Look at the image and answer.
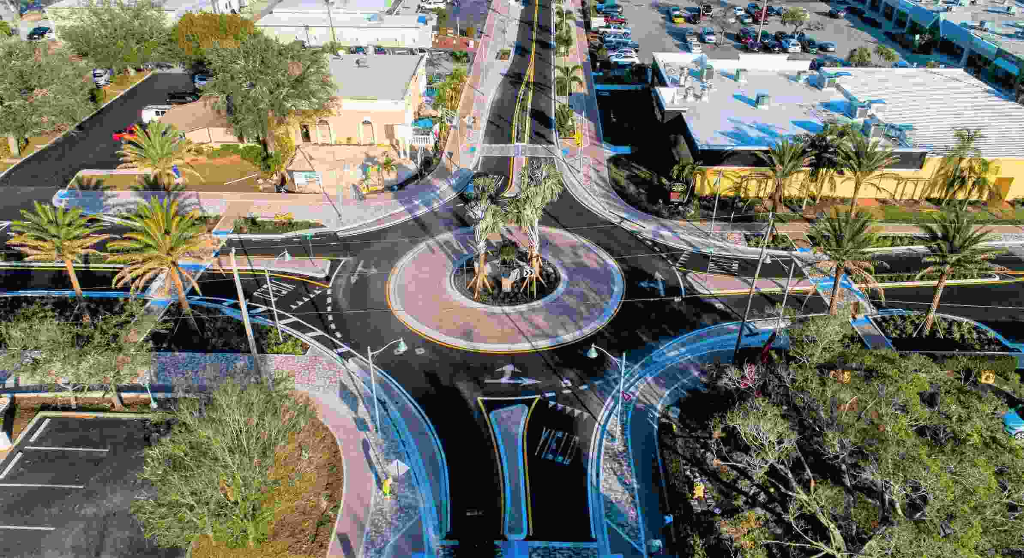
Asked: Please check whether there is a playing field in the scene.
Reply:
No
